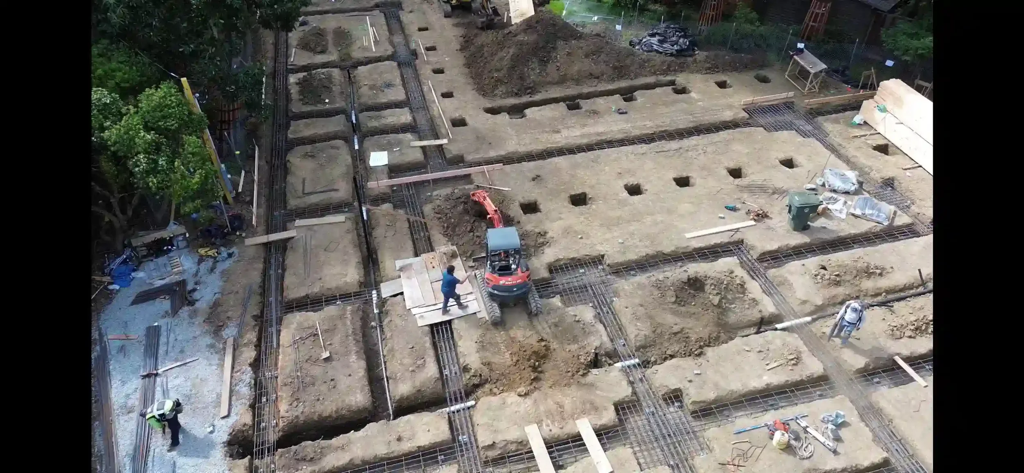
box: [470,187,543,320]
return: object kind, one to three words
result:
work vehicle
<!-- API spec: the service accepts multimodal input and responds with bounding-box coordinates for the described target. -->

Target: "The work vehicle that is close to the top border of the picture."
[438,0,498,35]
